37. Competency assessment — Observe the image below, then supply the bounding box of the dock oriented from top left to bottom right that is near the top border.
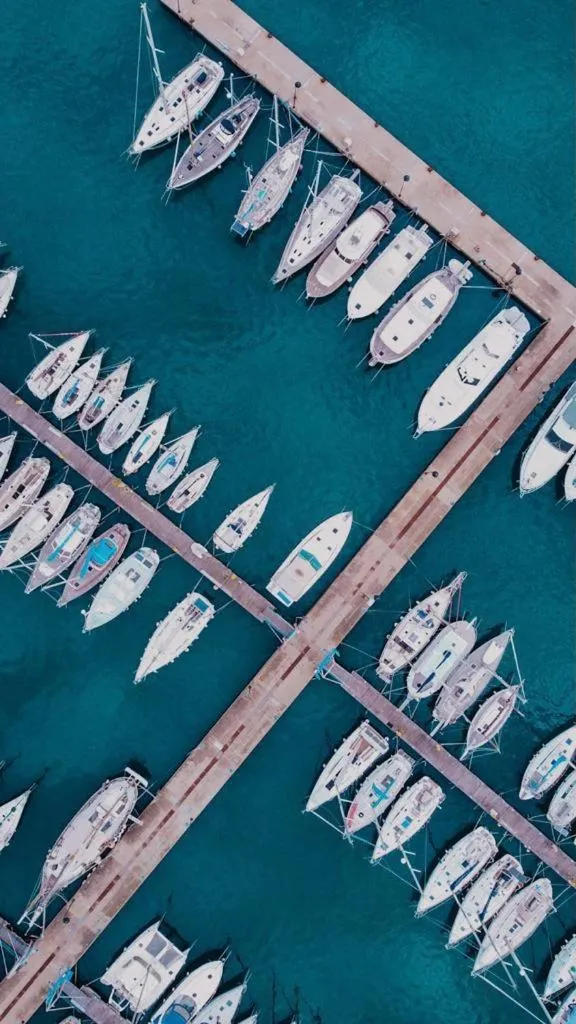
[154,0,576,342]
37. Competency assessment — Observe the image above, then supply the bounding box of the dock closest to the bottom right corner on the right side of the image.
[341,670,576,888]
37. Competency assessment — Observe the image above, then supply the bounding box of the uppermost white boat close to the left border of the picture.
[0,264,28,313]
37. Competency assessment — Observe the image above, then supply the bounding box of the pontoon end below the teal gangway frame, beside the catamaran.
[71,985,130,1024]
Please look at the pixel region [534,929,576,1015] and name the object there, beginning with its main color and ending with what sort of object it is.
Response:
white boat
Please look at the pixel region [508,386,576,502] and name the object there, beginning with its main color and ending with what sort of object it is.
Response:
white boat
